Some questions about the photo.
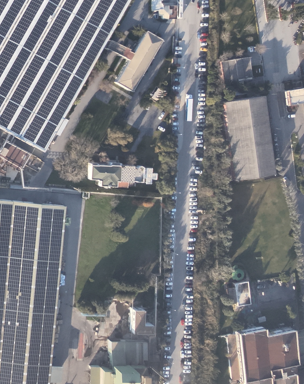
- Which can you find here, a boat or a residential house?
residential house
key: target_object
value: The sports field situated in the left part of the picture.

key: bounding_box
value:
[78,197,161,299]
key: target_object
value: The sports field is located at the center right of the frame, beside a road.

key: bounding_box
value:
[232,177,302,281]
